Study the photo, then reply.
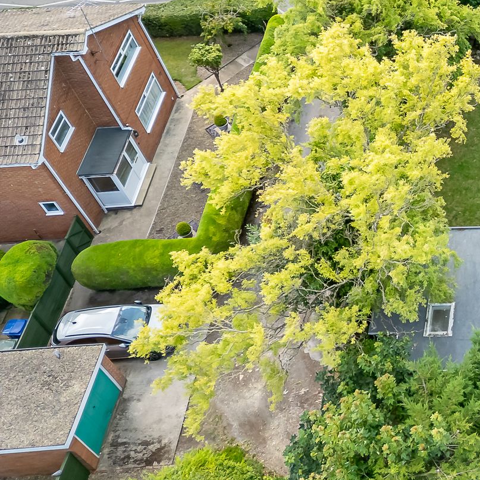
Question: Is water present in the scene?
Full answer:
No, no water is visible.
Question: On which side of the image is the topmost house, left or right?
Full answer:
You can find the topmost house on the left side of the picture.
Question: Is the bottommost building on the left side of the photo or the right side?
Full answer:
The bottommost building appears in the left half of the scene.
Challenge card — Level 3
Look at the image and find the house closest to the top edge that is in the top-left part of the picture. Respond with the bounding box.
[0,0,180,238]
